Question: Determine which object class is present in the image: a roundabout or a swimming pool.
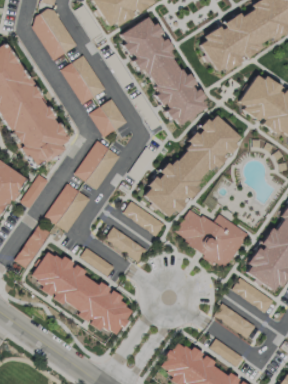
swimming pool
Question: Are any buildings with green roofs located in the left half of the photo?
No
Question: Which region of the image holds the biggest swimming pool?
right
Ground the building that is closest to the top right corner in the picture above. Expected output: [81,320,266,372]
[201,0,288,74]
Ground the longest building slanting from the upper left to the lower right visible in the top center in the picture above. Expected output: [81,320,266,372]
[120,17,207,122]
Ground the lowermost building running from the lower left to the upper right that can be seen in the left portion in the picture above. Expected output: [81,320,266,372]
[15,226,51,268]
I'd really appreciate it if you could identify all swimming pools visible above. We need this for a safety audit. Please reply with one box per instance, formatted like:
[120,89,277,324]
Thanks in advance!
[213,155,285,225]
[218,187,228,197]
